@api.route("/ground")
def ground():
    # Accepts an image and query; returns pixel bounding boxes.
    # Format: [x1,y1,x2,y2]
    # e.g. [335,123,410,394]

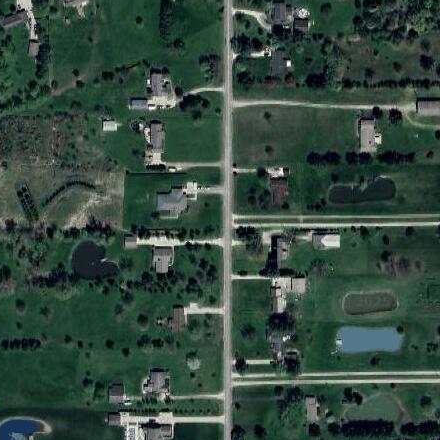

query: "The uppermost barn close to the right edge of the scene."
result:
[417,97,440,115]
